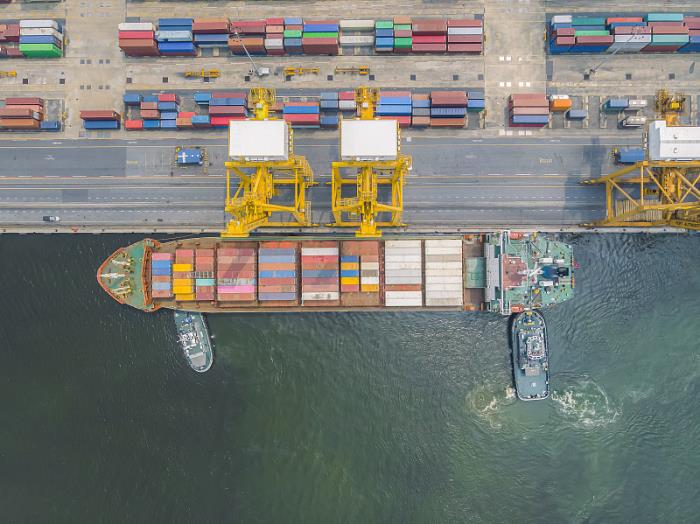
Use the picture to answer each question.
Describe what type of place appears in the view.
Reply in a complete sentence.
The picture captures a port.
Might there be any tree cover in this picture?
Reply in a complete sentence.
No, the picture contains no tree cover.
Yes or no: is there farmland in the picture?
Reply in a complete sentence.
No, the picture contains no farmland.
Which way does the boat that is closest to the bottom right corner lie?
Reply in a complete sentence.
The boat that is closest to the bottom right corner is oriented vertically.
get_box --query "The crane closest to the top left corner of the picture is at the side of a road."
[218,88,318,237]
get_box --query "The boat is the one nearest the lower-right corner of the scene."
[511,311,554,402]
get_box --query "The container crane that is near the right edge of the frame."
[582,85,700,226]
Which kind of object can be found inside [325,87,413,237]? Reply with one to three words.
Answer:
container crane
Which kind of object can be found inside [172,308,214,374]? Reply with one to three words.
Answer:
boat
